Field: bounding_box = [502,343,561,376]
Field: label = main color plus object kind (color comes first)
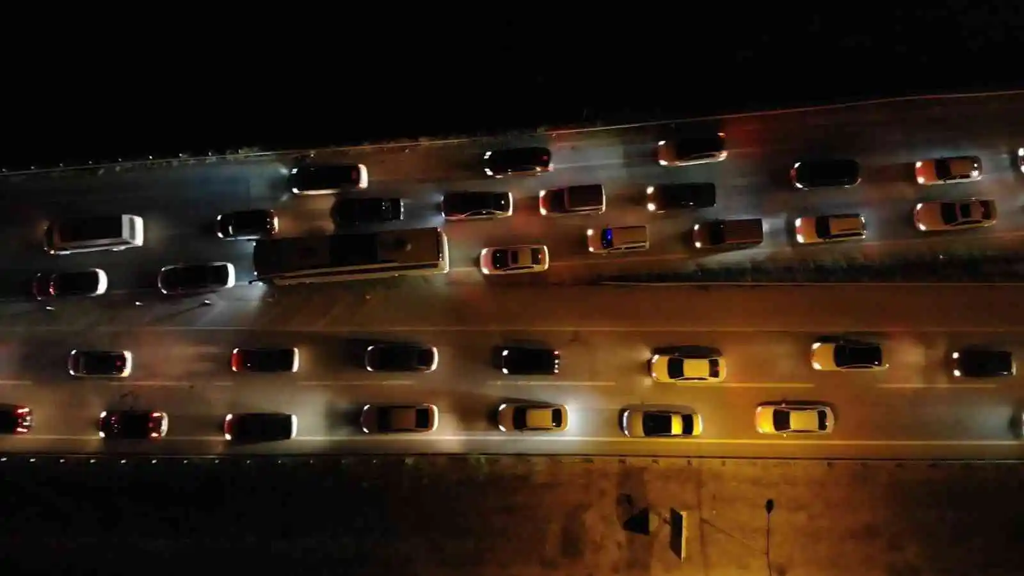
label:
black car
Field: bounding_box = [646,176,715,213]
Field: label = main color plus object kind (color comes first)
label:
black van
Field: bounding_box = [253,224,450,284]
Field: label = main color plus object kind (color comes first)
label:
black bus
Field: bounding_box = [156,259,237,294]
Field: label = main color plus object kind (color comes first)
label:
black car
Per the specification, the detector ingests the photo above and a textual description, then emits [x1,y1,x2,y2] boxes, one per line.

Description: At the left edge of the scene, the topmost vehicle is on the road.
[47,214,145,254]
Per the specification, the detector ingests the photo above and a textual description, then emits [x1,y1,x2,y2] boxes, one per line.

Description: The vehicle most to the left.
[0,405,36,434]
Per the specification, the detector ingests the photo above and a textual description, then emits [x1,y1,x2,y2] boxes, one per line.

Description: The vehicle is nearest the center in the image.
[480,241,551,275]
